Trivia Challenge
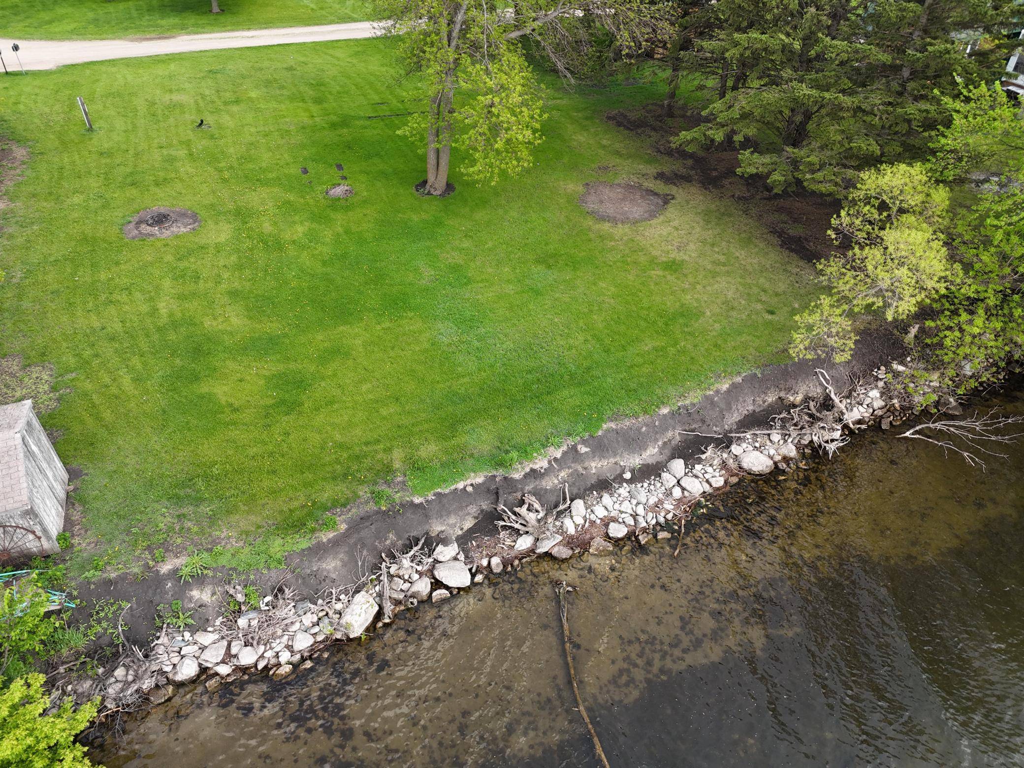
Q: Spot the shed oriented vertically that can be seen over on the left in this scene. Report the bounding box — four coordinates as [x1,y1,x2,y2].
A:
[0,401,69,567]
